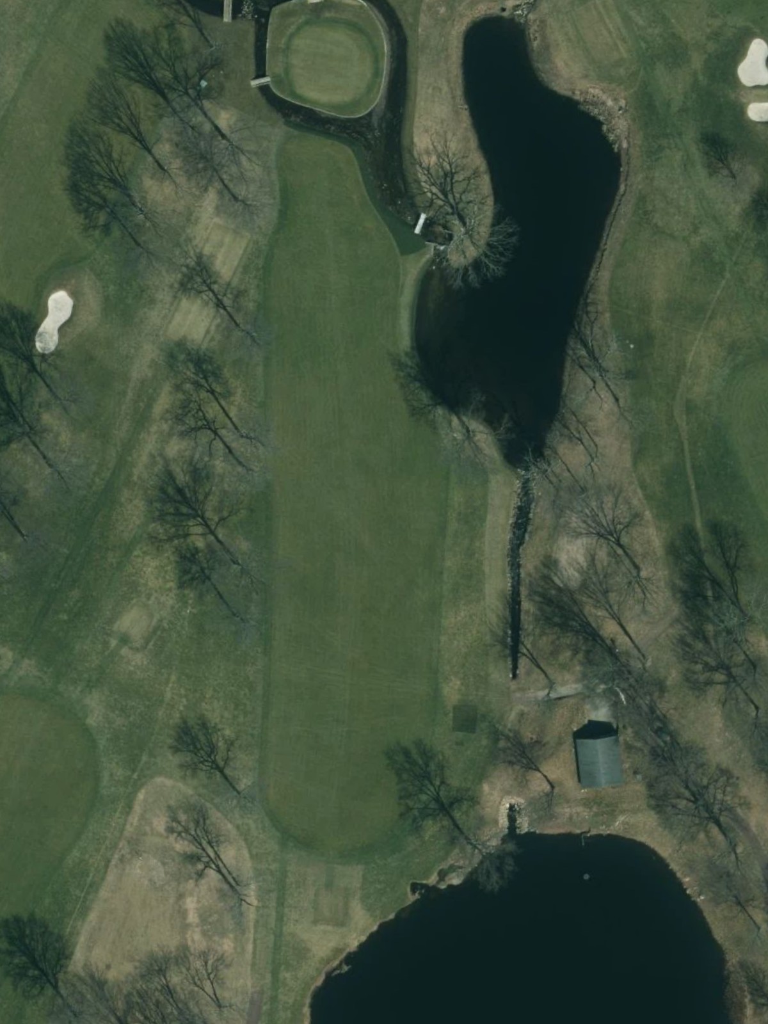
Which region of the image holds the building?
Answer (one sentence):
The building is located in the bottom right region of the scene.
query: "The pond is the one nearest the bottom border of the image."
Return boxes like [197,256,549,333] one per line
[310,803,733,1024]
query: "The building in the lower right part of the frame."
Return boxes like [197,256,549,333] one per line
[576,735,623,789]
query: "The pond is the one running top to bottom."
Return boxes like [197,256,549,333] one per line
[415,15,621,474]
